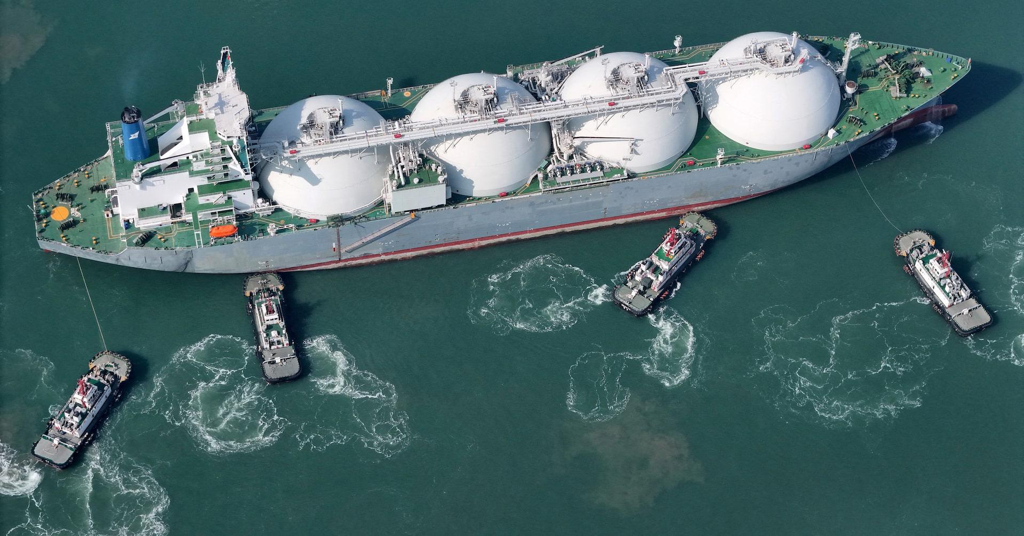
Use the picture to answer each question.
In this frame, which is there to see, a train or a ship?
ship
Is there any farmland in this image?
No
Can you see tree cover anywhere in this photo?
No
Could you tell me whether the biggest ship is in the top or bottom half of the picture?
top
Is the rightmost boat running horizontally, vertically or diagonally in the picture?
diagonally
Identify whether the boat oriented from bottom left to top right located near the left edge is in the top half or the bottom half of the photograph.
bottom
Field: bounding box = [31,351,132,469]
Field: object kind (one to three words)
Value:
boat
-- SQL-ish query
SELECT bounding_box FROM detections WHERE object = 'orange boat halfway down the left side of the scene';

[209,225,239,238]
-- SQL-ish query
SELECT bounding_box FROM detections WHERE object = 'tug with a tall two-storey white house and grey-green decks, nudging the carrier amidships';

[615,214,716,315]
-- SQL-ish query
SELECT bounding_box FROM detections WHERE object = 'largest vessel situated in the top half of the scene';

[27,28,974,274]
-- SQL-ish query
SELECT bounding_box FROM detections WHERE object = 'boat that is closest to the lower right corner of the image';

[895,230,996,338]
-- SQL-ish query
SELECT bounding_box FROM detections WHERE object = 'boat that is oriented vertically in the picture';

[242,271,305,387]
